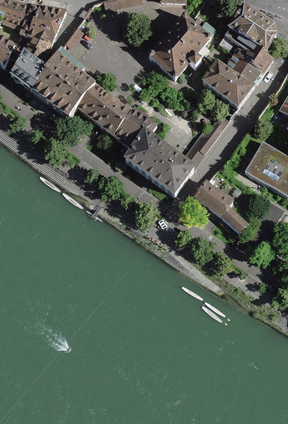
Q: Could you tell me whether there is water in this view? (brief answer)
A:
Yes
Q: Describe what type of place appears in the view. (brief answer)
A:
residential area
